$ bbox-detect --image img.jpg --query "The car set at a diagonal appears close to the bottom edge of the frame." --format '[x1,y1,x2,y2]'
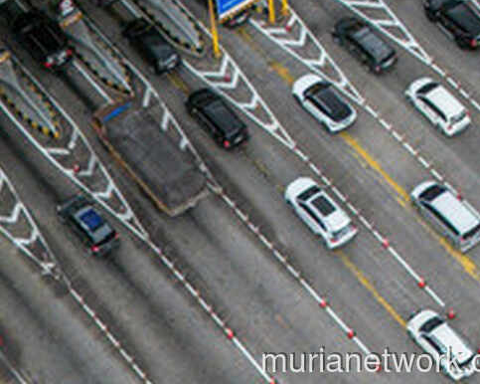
[407,309,475,378]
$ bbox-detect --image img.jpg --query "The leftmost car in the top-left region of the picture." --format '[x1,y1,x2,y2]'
[14,13,71,70]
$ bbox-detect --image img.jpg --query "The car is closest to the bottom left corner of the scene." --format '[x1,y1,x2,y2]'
[61,198,119,259]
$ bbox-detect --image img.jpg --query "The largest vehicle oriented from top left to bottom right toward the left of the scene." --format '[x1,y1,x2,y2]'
[86,97,209,225]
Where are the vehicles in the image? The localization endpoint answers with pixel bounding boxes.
[426,0,480,49]
[407,83,467,139]
[14,13,71,70]
[333,16,397,75]
[122,20,182,76]
[188,91,248,149]
[294,76,352,132]
[220,6,257,37]
[289,184,350,244]
[412,184,480,250]
[407,309,475,378]
[86,97,209,225]
[61,198,119,259]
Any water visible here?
No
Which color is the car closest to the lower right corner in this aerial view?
white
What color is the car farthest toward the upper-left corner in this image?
black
